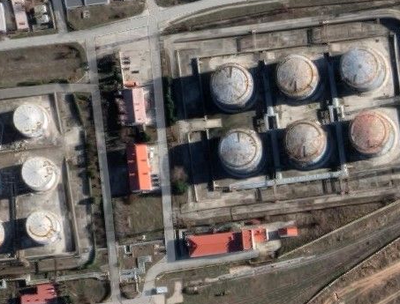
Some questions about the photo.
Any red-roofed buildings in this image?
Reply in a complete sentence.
Yes, looking at the shot, I can spot a red-roofed building.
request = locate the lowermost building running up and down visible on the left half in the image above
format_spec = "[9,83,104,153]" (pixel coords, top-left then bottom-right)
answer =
[126,143,153,193]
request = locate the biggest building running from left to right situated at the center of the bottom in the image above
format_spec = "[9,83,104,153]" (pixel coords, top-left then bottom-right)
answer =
[187,230,240,259]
